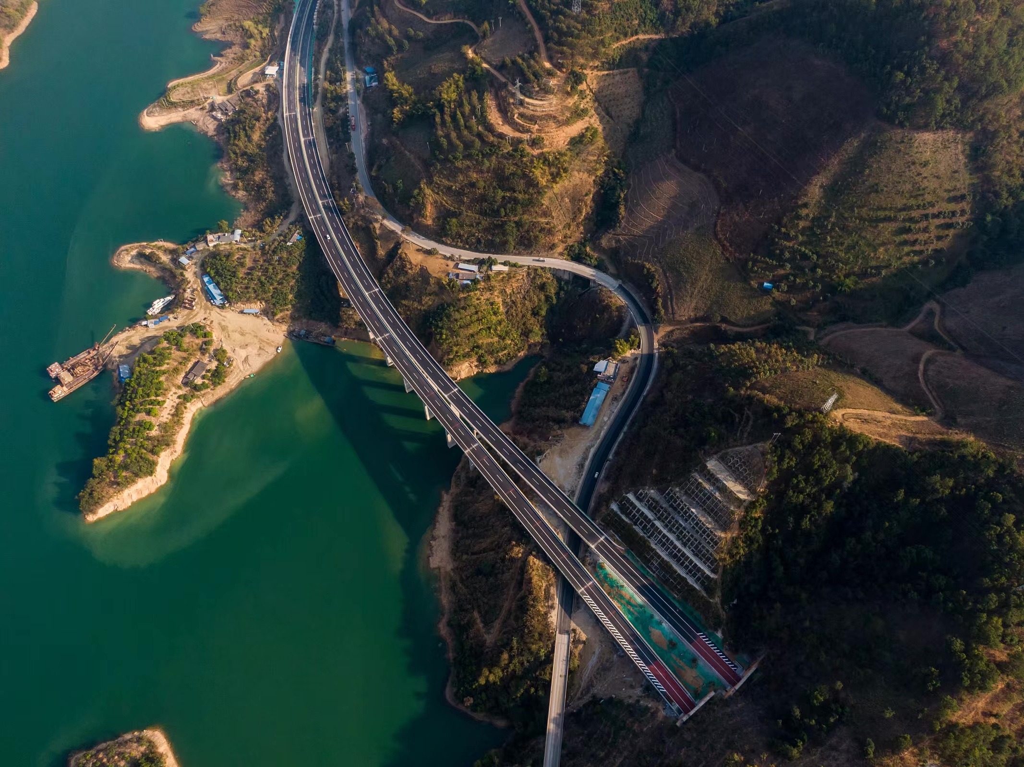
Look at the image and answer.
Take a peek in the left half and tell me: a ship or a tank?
ship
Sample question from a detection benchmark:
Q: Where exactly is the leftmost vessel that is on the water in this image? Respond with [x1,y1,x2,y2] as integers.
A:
[47,324,118,400]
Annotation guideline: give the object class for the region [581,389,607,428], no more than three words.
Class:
building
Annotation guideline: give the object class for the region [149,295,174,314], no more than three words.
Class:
boat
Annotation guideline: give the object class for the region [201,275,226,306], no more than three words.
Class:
building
